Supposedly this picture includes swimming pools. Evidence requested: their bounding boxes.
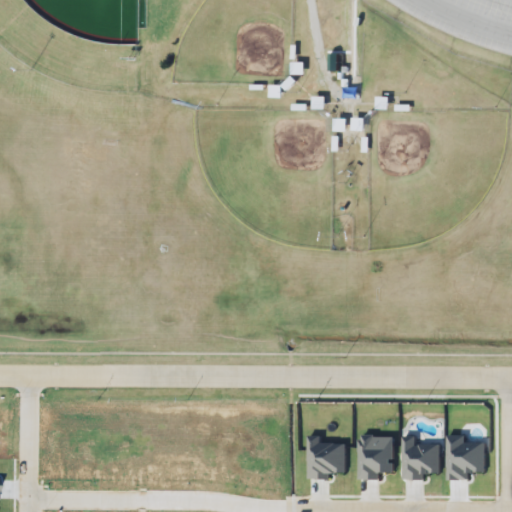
[403,416,444,446]
[460,423,487,444]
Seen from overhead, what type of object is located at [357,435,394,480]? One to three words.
house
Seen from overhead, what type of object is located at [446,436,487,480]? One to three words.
house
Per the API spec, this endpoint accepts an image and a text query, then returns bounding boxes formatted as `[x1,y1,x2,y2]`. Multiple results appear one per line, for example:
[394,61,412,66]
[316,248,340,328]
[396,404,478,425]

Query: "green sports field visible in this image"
[26,0,146,44]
